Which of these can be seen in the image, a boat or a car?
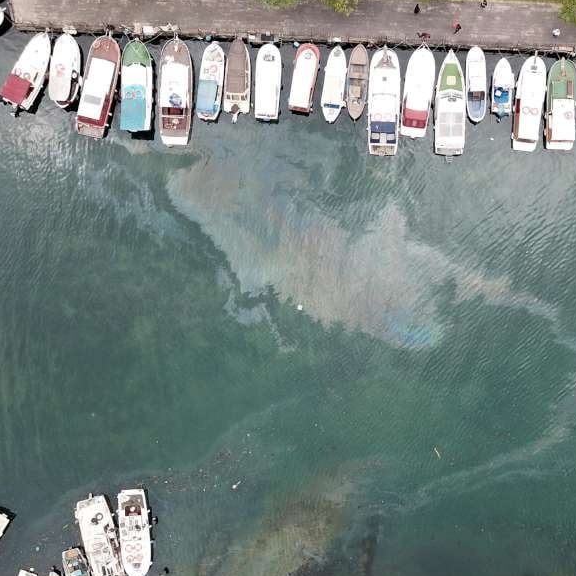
boat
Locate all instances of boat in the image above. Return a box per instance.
[490,58,514,122]
[117,487,157,576]
[363,40,401,158]
[114,33,157,137]
[46,34,83,111]
[156,30,196,149]
[509,49,548,153]
[318,46,349,125]
[63,545,89,576]
[73,28,121,142]
[464,47,487,125]
[346,43,368,126]
[398,40,436,140]
[253,41,284,127]
[0,28,50,118]
[74,493,124,576]
[430,49,467,164]
[223,34,254,119]
[193,40,225,123]
[17,566,39,576]
[285,41,322,116]
[542,52,576,151]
